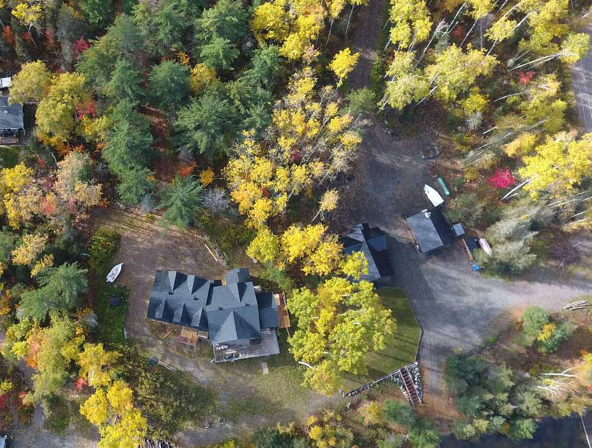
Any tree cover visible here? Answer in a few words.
Yes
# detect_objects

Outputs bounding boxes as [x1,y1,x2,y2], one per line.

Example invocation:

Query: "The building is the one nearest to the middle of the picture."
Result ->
[333,223,396,291]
